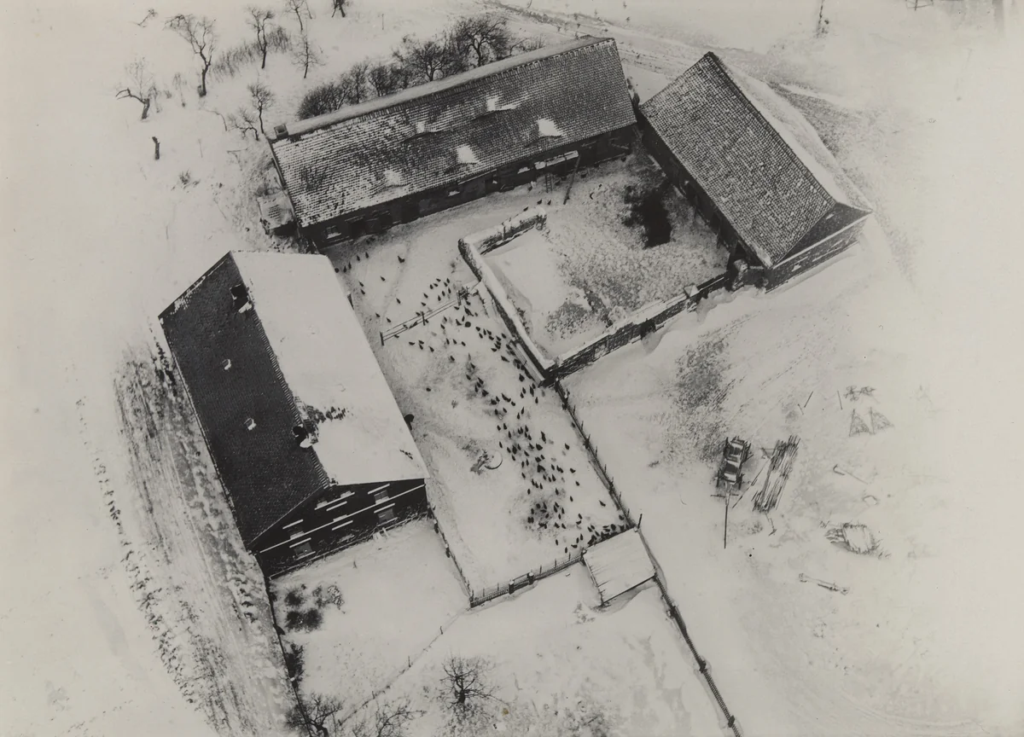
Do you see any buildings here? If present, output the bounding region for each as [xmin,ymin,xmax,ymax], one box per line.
[158,249,431,575]
[258,33,637,250]
[582,528,657,607]
[638,49,876,291]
